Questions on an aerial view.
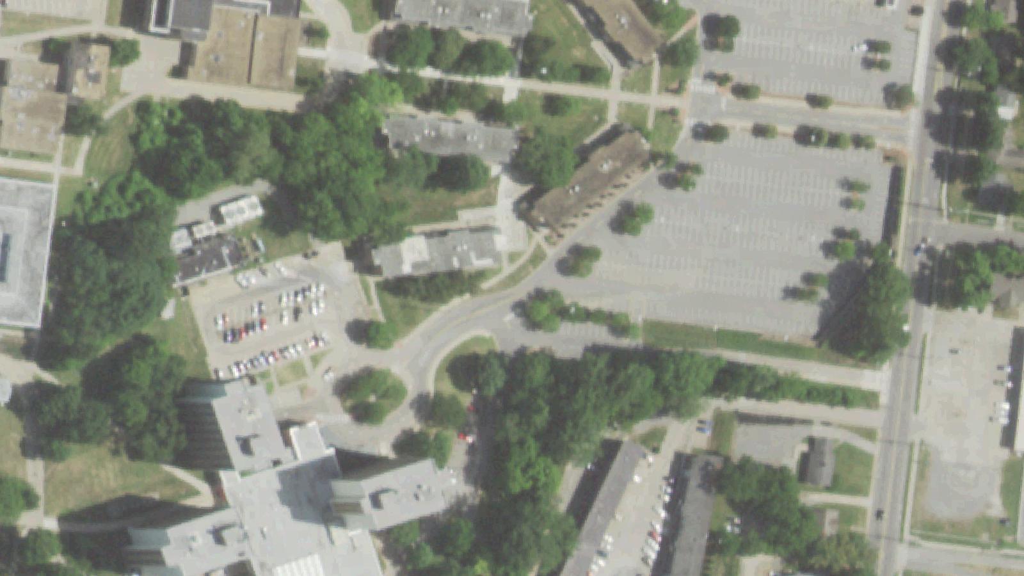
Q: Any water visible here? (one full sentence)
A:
No, there's no water in this view.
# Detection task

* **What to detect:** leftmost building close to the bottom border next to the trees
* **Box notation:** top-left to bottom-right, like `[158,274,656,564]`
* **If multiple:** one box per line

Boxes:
[126,380,444,576]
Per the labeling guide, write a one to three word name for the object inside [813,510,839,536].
house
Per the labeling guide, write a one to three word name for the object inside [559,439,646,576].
building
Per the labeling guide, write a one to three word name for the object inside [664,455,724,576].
building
